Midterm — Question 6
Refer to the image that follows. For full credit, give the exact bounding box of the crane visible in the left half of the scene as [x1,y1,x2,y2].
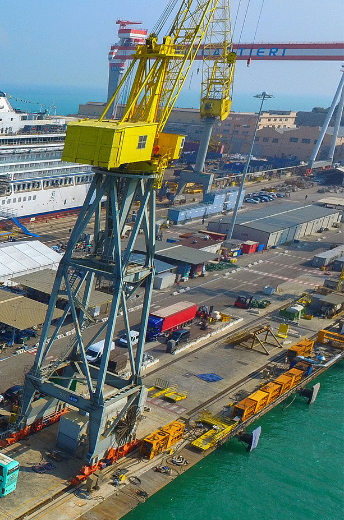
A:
[0,0,259,483]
